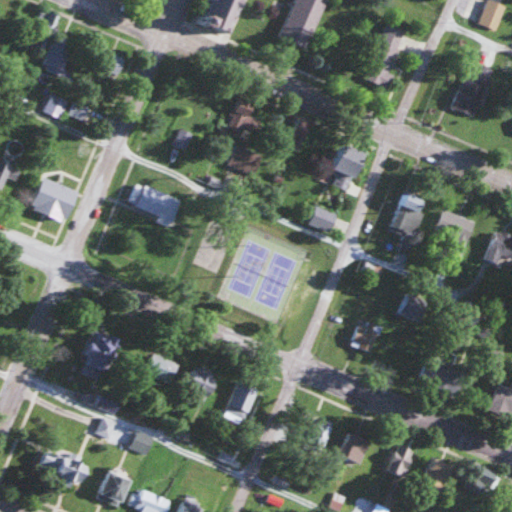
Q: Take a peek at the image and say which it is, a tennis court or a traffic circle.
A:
tennis court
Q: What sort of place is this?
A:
residential area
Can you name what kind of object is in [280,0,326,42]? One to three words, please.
house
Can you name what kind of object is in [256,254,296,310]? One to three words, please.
tennis court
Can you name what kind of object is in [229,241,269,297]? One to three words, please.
tennis court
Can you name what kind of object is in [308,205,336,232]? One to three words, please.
building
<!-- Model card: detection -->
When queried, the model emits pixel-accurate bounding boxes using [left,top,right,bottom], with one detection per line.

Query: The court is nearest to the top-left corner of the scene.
[193,219,225,274]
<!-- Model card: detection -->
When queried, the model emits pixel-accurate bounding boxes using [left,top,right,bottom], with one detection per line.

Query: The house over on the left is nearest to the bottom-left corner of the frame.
[46,447,92,488]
